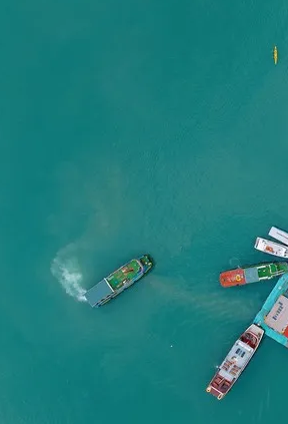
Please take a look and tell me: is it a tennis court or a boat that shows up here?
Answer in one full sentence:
The image shows a boat.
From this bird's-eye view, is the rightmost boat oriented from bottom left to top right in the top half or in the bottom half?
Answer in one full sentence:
Seen from above, the rightmost boat oriented from bottom left to top right lies in the bottom half of the view.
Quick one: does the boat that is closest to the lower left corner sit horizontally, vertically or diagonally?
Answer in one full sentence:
The boat that is closest to the lower left corner is laid out diagonally.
